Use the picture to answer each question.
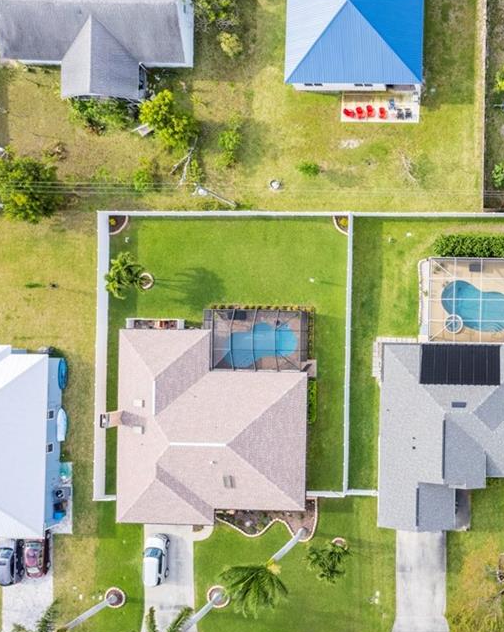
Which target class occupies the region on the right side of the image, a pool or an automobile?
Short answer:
pool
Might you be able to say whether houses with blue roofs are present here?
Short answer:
Yes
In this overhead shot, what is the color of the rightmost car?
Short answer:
white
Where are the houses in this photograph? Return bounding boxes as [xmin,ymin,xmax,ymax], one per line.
[100,328,310,524]
[0,337,64,539]
[377,343,504,531]
[284,0,424,91]
[0,0,193,102]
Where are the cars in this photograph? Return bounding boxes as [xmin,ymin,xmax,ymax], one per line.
[23,529,51,576]
[142,533,170,585]
[0,538,25,587]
